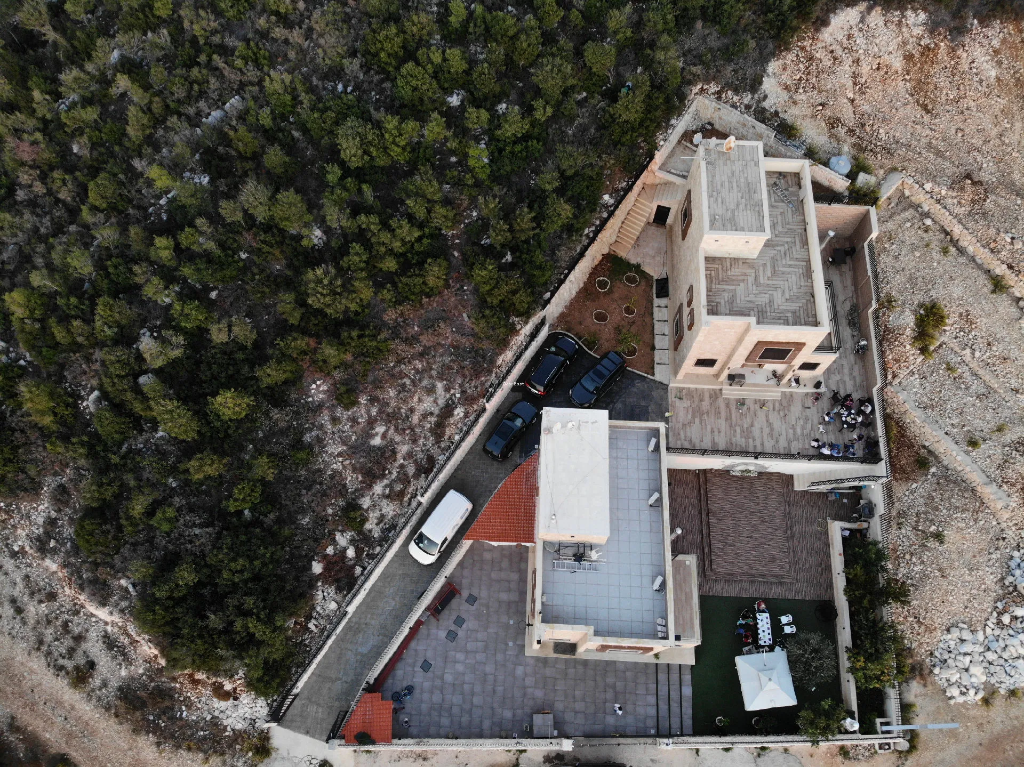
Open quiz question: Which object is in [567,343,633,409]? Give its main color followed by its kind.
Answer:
black car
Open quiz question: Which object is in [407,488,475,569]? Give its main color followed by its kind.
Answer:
white van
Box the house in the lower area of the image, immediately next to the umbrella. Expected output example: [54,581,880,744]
[463,407,703,665]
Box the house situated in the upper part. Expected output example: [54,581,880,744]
[667,139,849,400]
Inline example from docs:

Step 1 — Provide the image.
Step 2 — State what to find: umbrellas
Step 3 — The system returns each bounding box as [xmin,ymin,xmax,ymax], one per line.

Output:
[735,637,797,711]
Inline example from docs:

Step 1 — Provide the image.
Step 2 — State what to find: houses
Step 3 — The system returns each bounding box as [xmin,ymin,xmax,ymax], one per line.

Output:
[463,407,703,665]
[667,139,849,400]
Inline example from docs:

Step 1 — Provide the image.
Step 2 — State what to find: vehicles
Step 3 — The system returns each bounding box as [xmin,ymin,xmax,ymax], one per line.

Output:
[480,399,538,464]
[567,343,633,409]
[545,754,628,767]
[407,488,475,569]
[524,332,579,399]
